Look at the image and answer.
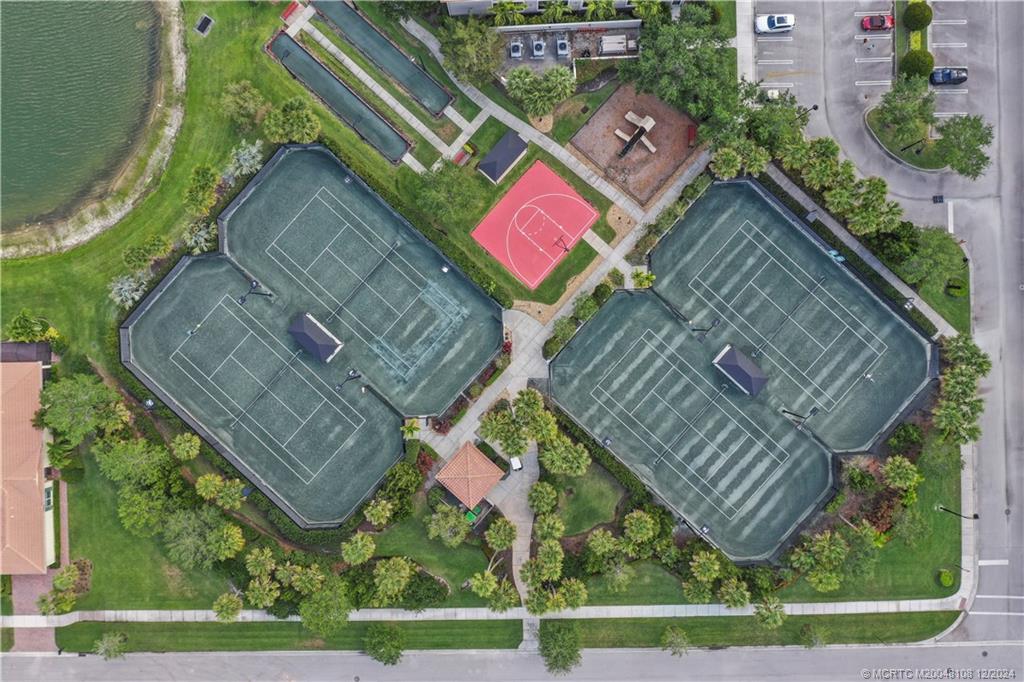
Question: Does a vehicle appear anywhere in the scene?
Yes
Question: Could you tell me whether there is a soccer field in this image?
No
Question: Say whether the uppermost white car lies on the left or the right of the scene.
right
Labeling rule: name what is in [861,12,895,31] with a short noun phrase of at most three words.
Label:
car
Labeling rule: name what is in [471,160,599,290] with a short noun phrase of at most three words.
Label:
basketball court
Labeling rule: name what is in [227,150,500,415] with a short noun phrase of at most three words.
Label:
tennis court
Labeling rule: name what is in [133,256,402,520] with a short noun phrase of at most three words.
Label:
tennis court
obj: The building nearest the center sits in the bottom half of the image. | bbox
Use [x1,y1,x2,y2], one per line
[435,441,505,511]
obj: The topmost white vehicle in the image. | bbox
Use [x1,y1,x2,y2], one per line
[756,12,796,33]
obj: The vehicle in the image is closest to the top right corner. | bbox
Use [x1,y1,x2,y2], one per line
[930,66,971,85]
